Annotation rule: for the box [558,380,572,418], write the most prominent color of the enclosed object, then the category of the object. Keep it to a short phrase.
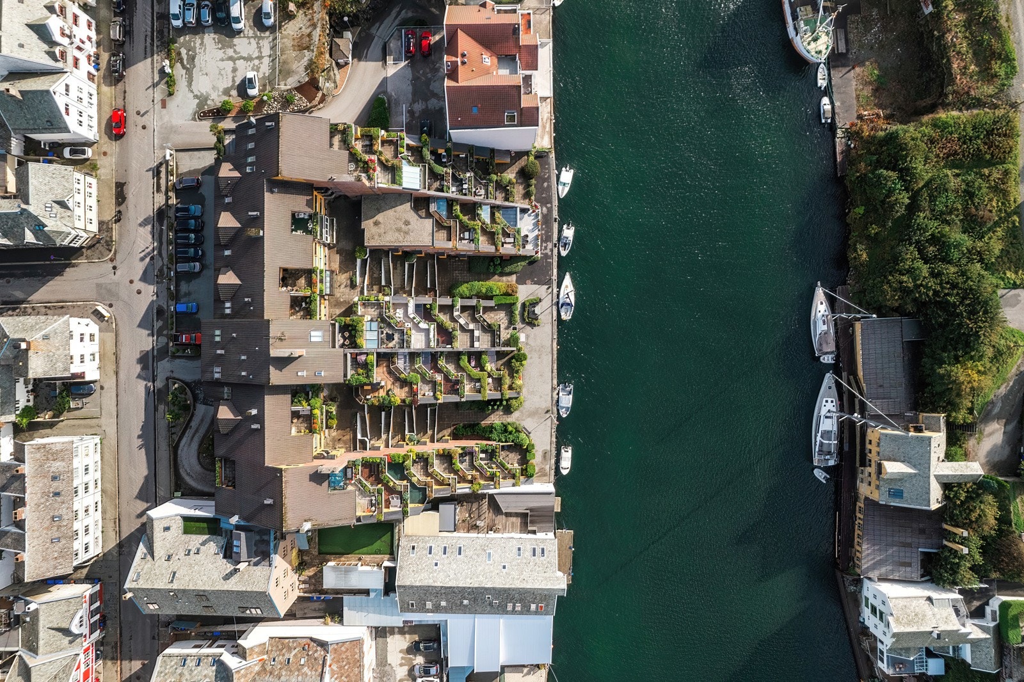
white boat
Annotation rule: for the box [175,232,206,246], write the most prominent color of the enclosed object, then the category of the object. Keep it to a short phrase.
black car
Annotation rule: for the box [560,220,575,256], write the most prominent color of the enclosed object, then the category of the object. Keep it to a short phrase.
white boat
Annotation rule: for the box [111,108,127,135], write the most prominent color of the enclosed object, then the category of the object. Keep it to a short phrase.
red car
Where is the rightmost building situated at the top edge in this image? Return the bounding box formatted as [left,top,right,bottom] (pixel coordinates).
[444,0,552,147]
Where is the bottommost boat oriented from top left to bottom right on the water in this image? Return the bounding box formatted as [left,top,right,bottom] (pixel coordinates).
[810,465,830,482]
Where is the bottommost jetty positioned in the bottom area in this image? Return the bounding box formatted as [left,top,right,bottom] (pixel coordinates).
[555,530,573,583]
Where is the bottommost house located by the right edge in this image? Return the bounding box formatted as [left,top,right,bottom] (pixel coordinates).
[864,583,1001,674]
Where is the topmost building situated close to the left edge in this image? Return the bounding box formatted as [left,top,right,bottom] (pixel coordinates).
[0,0,97,87]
